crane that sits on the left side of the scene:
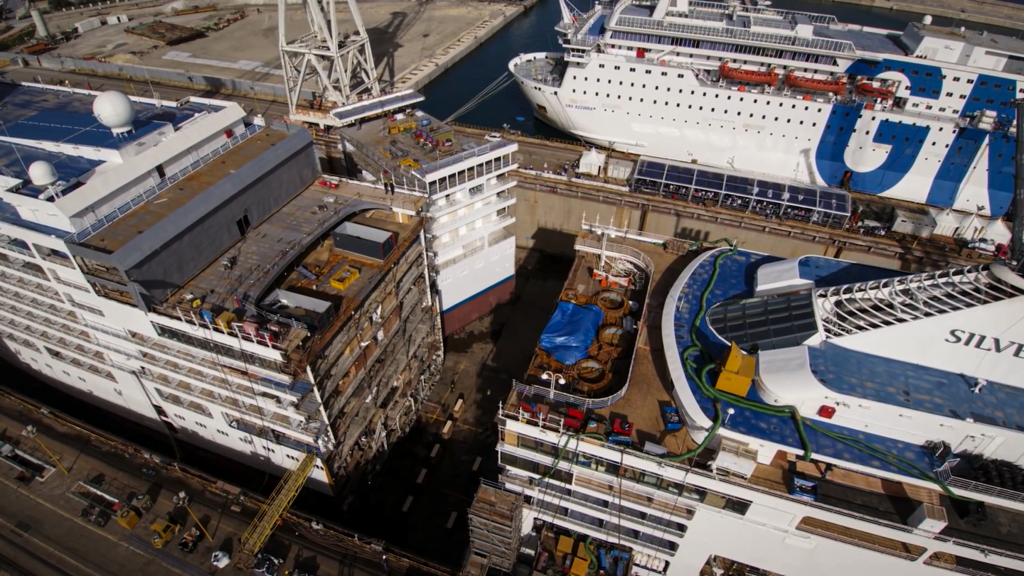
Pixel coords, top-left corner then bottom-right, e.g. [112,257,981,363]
[279,0,425,134]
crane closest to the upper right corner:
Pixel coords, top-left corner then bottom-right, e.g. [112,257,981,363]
[997,92,1024,278]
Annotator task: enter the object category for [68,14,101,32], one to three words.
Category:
shed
